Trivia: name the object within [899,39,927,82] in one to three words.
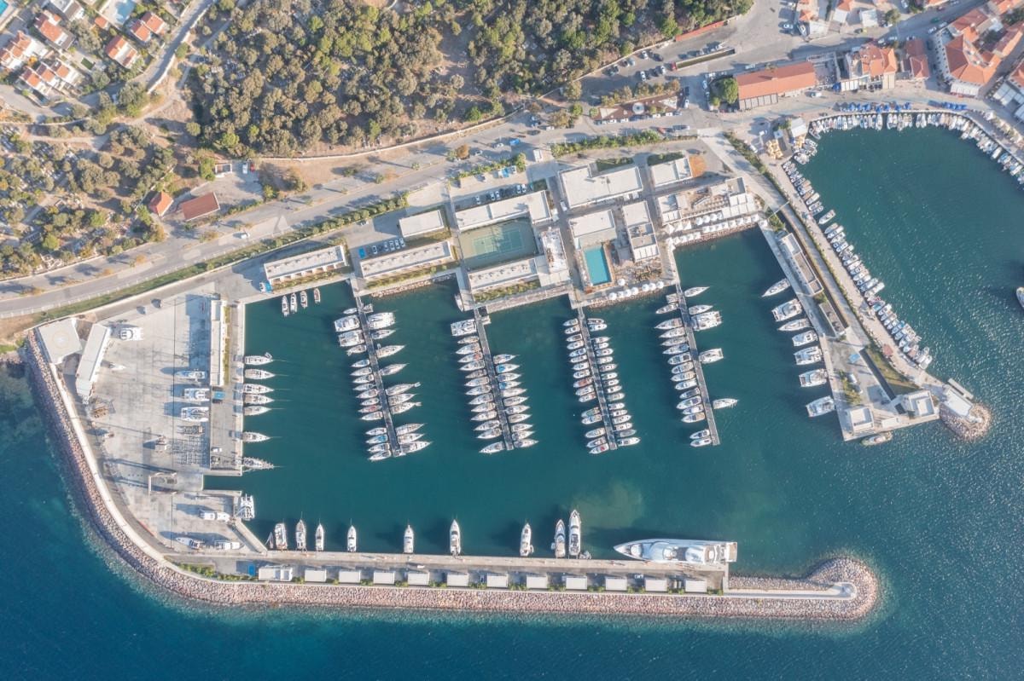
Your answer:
house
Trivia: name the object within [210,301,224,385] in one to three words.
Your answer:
building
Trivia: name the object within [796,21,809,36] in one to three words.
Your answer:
vehicle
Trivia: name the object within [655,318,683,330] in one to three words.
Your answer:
boat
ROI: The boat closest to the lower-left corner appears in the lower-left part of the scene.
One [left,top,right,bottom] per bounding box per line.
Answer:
[168,537,205,553]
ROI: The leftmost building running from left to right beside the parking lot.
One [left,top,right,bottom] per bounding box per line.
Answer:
[264,246,349,283]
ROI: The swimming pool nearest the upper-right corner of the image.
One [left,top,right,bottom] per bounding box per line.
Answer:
[579,241,616,289]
